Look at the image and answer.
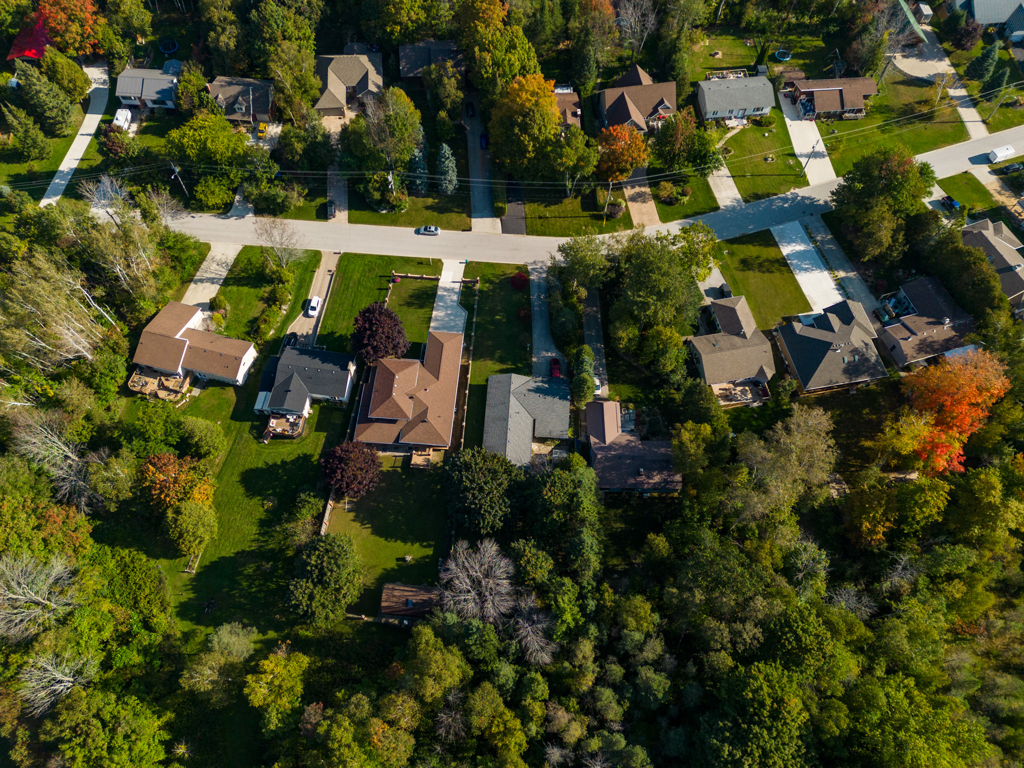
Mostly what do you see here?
trees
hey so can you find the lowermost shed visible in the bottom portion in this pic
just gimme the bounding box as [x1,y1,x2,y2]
[383,584,443,617]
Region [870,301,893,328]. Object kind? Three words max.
truck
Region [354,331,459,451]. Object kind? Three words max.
house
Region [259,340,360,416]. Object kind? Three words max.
house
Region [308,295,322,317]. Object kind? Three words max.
car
